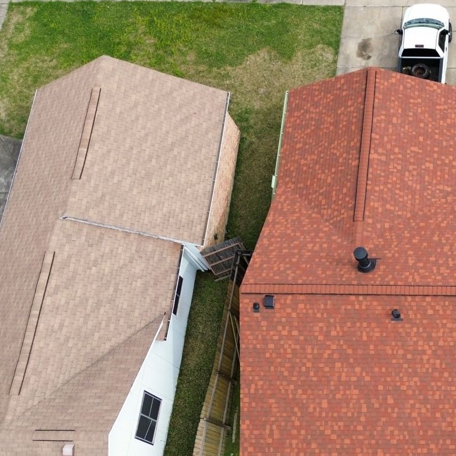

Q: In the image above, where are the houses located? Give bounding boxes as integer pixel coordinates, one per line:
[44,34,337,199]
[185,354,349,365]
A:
[239,68,456,456]
[0,59,239,456]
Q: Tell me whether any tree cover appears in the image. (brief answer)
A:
No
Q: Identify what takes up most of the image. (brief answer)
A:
buildings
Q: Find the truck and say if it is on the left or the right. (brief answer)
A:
right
